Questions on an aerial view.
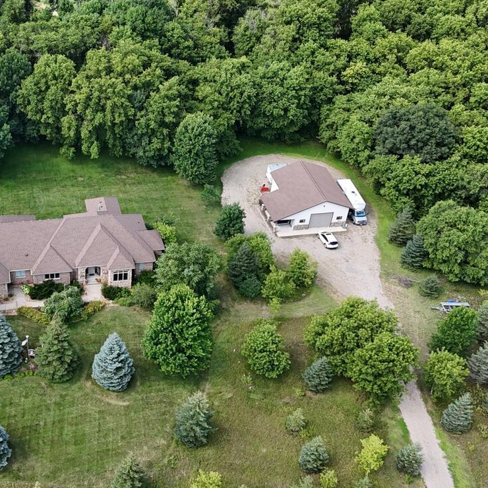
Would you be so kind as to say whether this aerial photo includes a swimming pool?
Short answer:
No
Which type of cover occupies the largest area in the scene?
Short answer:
trees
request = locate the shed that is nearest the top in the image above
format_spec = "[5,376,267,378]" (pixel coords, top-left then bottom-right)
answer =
[260,160,355,233]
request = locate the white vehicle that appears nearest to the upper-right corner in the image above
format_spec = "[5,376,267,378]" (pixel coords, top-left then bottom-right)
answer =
[338,178,368,222]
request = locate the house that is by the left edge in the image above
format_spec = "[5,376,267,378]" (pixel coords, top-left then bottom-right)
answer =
[0,197,165,297]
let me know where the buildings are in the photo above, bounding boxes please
[0,197,165,297]
[260,160,355,233]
